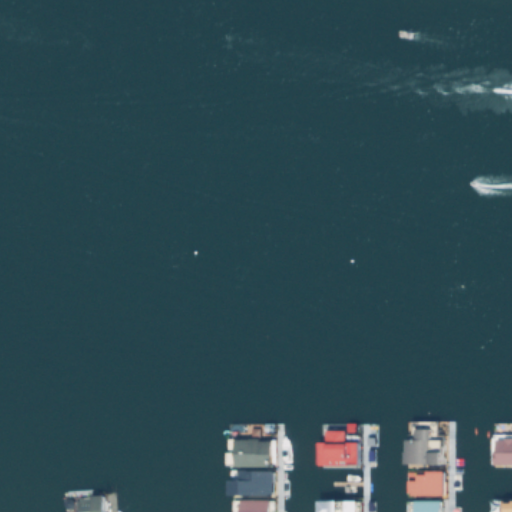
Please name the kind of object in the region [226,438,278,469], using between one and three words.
house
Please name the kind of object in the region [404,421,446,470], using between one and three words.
house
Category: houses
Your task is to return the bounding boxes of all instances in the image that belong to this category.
[316,501,362,512]
[404,421,446,470]
[232,500,277,512]
[491,434,512,468]
[226,438,278,469]
[316,423,361,470]
[490,501,512,512]
[64,489,110,512]
[408,471,448,498]
[408,501,446,512]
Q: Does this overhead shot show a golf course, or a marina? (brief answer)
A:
marina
